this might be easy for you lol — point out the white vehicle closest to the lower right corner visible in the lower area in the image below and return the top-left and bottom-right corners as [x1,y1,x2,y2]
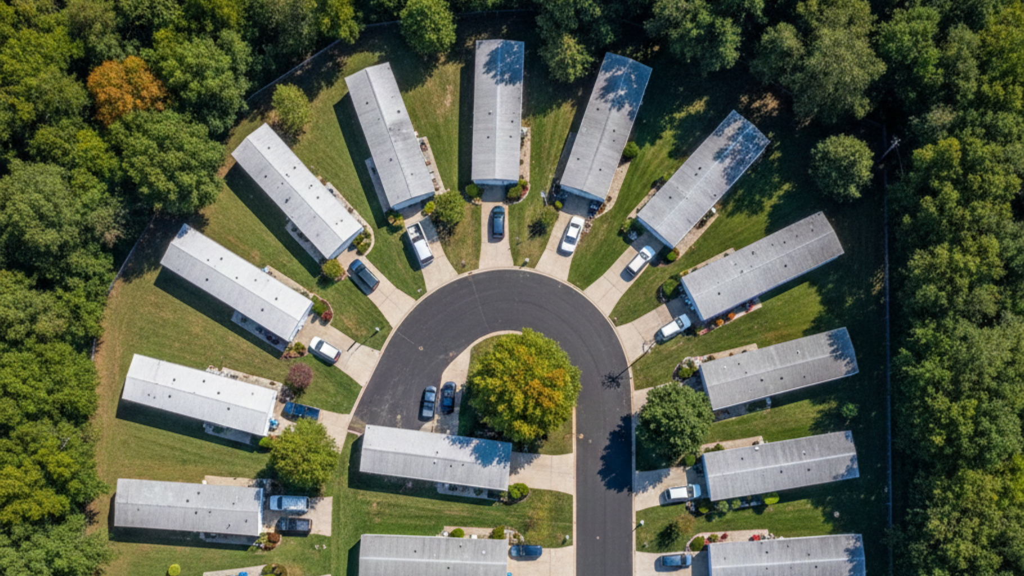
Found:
[666,486,700,500]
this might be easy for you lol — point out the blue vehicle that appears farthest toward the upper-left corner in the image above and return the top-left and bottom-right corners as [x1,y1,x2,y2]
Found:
[352,260,381,291]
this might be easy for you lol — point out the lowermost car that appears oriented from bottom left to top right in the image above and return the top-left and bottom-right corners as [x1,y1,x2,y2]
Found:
[658,316,691,340]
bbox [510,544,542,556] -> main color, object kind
blue vehicle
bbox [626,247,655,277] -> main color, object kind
white car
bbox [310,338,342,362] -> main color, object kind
white car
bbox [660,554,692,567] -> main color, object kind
blue vehicle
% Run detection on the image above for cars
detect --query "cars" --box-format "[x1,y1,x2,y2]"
[666,486,700,500]
[310,338,342,362]
[492,207,506,240]
[352,260,381,291]
[660,554,692,567]
[277,517,312,531]
[423,386,438,420]
[658,316,691,340]
[510,544,542,556]
[626,247,655,277]
[442,382,456,414]
[563,217,584,252]
[271,496,310,511]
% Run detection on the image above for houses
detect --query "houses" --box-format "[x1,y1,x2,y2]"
[360,424,513,491]
[698,327,858,411]
[680,211,843,323]
[636,109,770,252]
[231,122,364,262]
[359,533,508,576]
[345,62,435,211]
[161,223,314,342]
[559,54,652,206]
[471,38,524,187]
[113,478,268,536]
[706,534,866,576]
[701,430,859,502]
[122,353,282,437]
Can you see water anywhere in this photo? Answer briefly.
No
